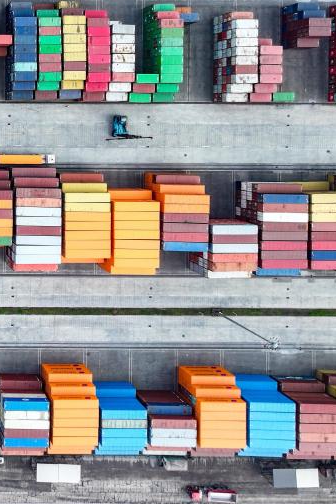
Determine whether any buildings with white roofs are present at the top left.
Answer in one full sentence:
No, I can find no building with a white roof at the top left.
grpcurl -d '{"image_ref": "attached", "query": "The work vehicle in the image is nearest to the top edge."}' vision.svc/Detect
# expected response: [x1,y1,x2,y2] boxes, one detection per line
[105,111,154,142]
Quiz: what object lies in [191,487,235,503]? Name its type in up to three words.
vehicle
